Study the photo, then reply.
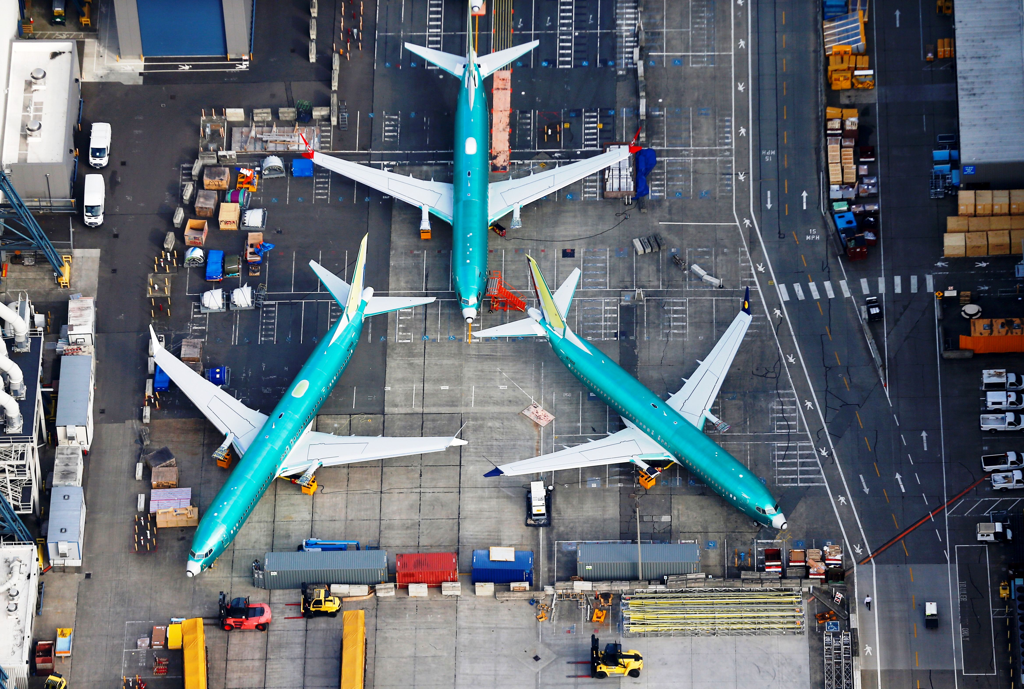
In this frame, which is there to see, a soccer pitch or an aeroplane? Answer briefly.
aeroplane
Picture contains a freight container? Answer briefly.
Yes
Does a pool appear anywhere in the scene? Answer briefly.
No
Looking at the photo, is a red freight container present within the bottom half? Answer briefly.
Yes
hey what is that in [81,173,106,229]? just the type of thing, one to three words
vehicle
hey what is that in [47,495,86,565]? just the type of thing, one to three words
building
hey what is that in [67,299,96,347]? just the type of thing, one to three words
building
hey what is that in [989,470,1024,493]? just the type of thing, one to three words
truck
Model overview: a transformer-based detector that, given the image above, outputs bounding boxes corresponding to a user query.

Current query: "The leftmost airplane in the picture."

[145,235,468,576]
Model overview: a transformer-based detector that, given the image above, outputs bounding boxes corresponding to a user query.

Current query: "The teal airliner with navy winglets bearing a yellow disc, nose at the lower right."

[474,253,787,529]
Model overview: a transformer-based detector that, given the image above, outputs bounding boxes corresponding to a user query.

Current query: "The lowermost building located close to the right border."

[960,318,1024,354]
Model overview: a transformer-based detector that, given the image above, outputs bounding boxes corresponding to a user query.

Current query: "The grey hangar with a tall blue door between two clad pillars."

[114,0,256,59]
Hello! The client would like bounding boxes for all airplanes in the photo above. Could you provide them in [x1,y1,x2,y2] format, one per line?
[474,253,787,529]
[145,235,468,576]
[297,0,644,326]
[466,0,487,12]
